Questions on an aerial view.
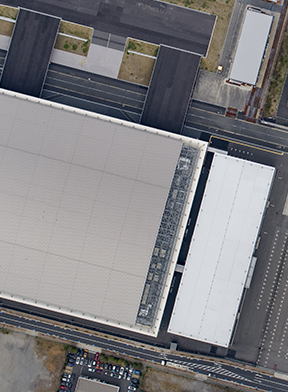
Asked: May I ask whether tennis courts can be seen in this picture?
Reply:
No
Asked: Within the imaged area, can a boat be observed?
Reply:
No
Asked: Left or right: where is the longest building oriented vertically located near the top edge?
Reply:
right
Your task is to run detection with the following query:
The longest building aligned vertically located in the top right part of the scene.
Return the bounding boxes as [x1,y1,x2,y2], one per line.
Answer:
[230,7,274,85]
